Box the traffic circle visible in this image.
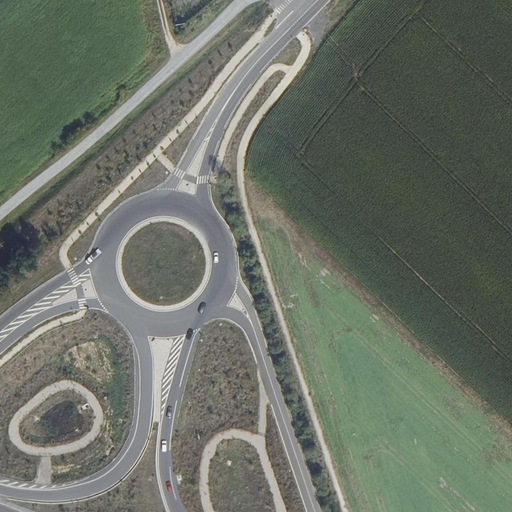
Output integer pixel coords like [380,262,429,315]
[90,190,238,338]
